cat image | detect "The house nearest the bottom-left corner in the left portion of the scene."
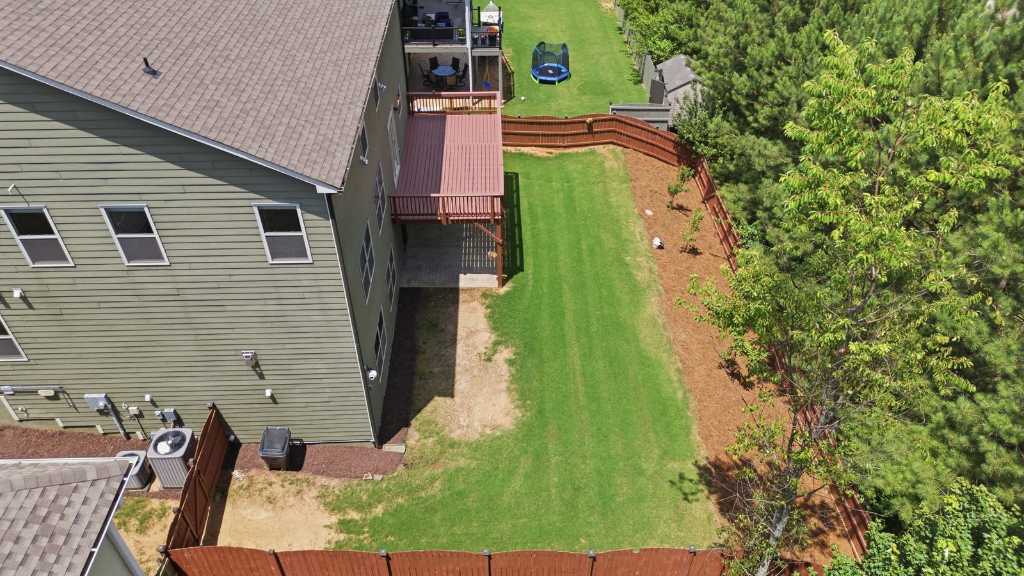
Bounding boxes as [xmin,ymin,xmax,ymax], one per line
[0,457,143,576]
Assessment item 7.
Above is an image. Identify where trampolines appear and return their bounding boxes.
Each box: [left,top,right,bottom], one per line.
[530,40,571,86]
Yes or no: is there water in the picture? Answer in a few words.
No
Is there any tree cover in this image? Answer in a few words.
Yes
